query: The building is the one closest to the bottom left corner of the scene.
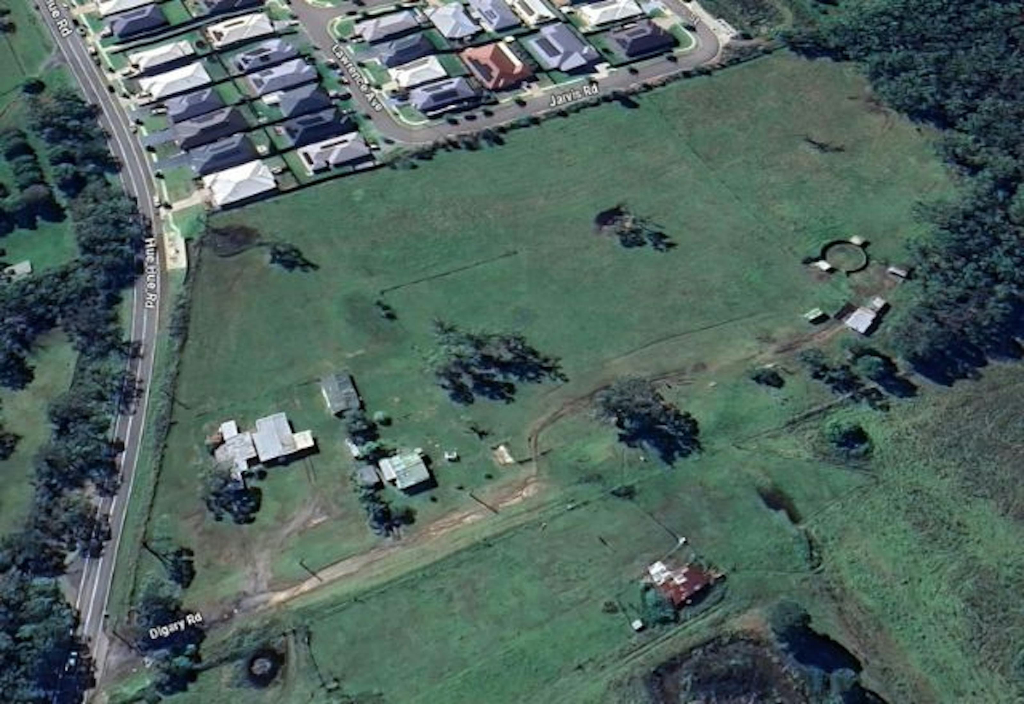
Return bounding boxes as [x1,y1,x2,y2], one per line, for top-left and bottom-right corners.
[207,419,261,484]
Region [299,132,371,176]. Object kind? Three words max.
house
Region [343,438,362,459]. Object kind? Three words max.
vehicle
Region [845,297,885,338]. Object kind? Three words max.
barn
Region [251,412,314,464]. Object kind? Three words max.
shed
